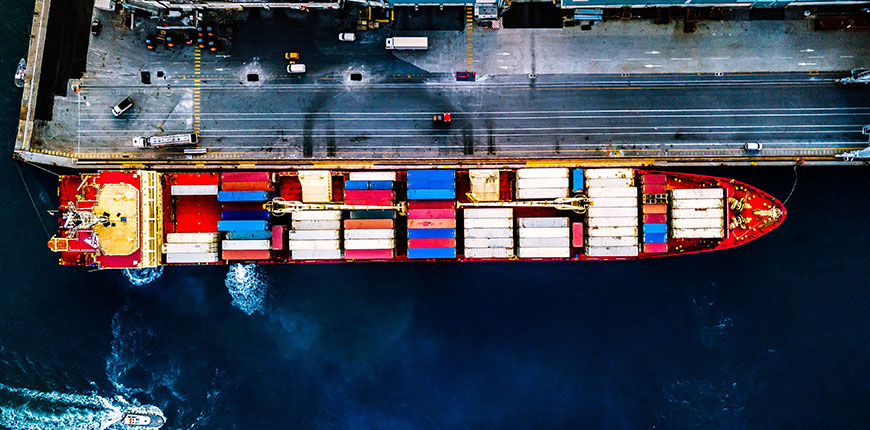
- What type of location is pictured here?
port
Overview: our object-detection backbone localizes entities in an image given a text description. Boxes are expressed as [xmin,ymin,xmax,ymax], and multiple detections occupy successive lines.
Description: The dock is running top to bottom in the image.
[15,0,51,149]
